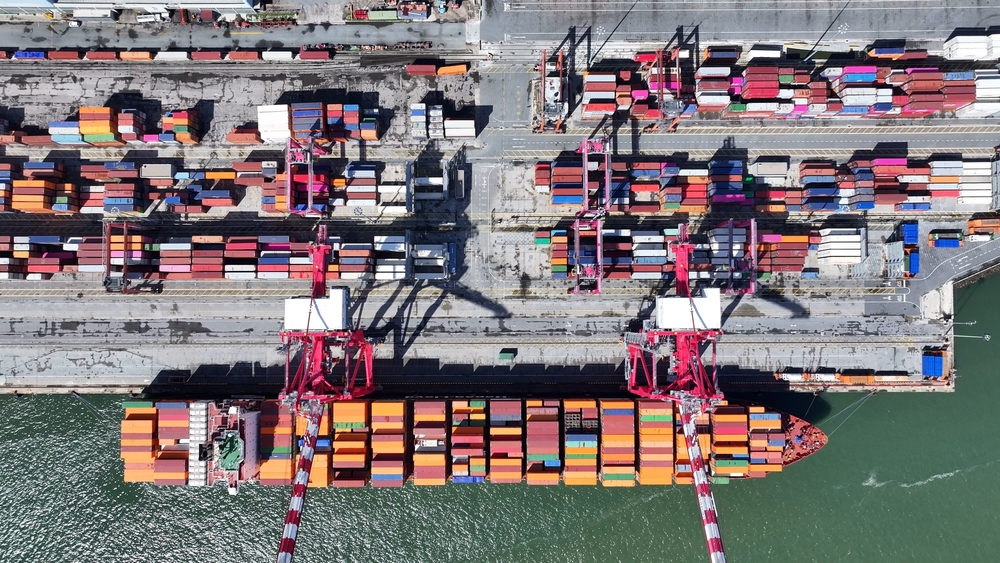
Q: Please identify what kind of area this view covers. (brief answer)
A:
port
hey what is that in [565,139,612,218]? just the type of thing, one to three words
container crane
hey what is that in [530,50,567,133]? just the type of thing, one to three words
container crane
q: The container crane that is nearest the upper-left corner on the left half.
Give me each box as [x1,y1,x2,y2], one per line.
[104,222,169,295]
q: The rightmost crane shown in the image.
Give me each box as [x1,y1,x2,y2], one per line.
[699,220,758,295]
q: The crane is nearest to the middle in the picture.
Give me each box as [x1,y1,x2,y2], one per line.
[558,221,605,295]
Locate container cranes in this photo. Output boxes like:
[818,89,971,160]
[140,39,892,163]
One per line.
[618,226,729,563]
[558,221,605,295]
[565,139,612,218]
[286,139,339,218]
[699,220,758,295]
[273,226,384,563]
[634,47,681,133]
[530,50,567,133]
[104,222,169,295]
